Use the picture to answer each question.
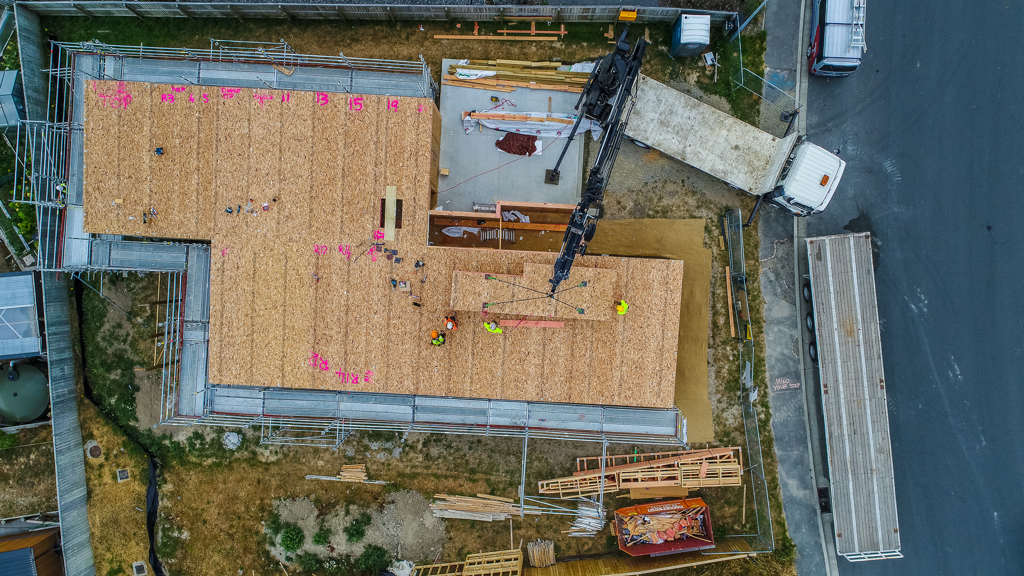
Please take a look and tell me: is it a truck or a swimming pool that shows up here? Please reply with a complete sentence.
This aerial view contains a truck.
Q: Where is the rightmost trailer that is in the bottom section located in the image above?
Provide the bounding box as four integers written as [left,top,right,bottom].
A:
[799,232,911,565]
